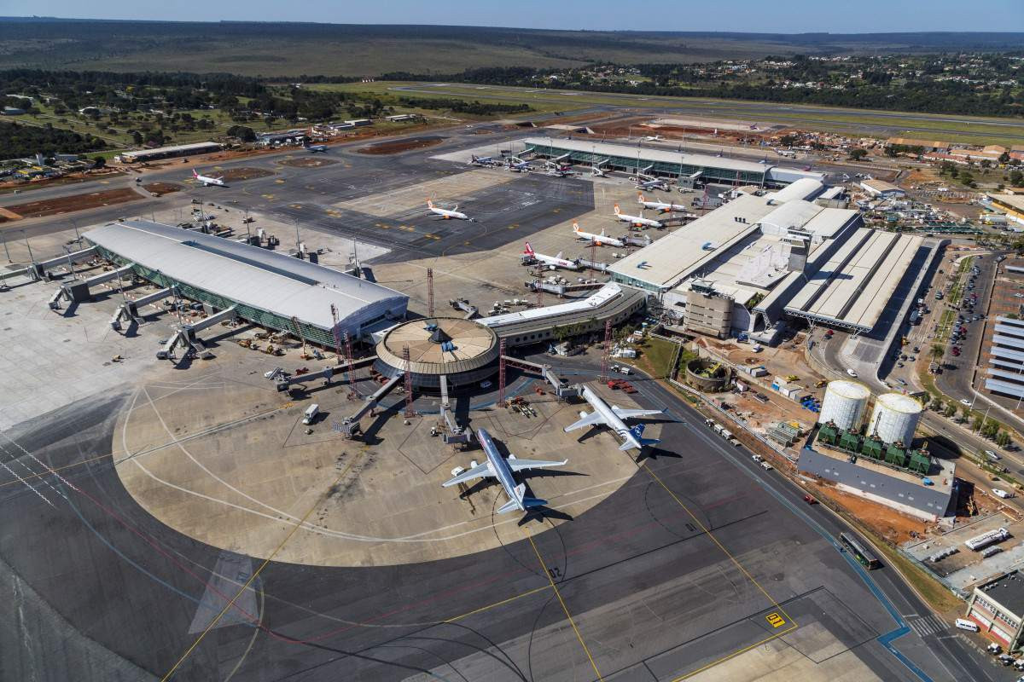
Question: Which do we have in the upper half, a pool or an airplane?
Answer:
airplane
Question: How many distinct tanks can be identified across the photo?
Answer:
2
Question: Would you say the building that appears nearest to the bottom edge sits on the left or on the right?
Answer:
right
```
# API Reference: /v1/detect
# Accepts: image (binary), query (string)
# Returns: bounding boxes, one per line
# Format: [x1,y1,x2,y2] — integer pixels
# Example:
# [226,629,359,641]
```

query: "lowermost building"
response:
[967,573,1024,655]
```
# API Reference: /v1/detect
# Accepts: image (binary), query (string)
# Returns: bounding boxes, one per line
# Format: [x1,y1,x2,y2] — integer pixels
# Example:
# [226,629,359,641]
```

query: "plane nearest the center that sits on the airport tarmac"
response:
[523,240,576,271]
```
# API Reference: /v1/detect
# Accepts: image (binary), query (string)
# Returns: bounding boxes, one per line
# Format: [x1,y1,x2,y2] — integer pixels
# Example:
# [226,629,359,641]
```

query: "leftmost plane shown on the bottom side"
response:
[442,430,561,518]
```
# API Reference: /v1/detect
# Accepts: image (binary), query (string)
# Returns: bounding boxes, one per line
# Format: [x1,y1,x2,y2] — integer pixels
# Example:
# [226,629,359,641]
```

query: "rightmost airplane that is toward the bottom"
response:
[565,385,664,453]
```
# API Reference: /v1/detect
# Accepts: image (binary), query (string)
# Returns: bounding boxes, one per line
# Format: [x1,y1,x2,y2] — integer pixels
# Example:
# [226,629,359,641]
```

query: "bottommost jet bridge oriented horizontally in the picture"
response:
[274,358,379,395]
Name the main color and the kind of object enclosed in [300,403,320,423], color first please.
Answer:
white vehicle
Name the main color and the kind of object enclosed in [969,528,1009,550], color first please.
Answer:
white truck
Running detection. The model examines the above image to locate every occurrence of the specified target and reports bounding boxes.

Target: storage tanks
[819,377,872,435]
[865,389,923,450]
